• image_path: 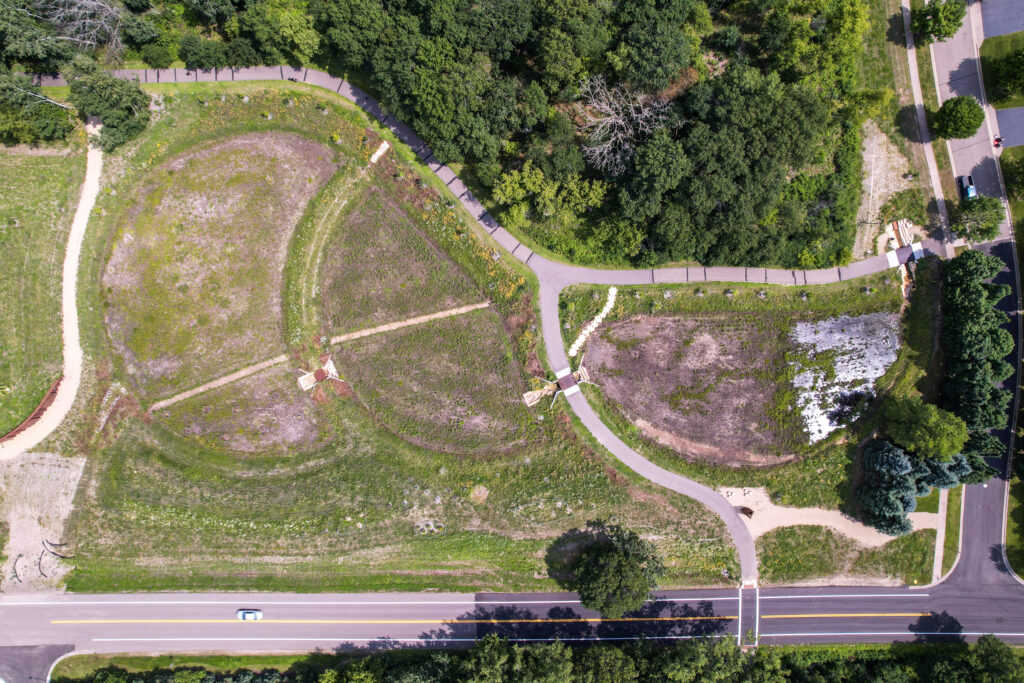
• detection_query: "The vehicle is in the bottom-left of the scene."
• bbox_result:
[236,609,262,621]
